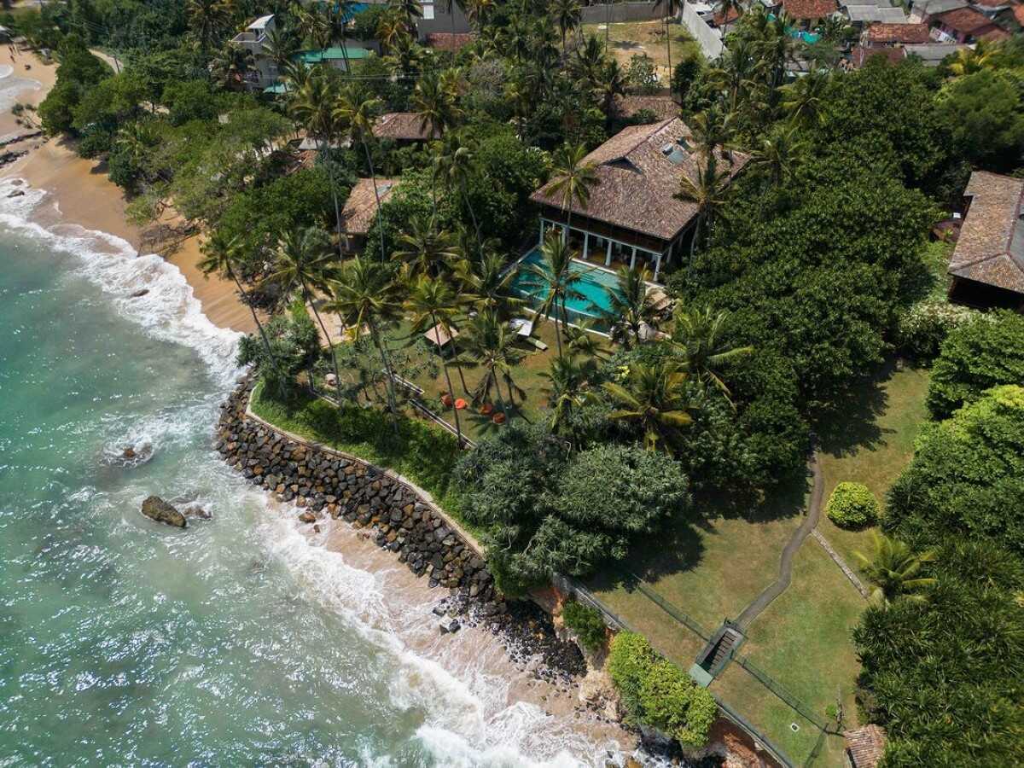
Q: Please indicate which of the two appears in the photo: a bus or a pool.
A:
pool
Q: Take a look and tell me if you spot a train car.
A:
No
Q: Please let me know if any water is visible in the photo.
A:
Yes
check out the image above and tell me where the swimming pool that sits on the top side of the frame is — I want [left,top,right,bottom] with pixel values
[495,245,656,340]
